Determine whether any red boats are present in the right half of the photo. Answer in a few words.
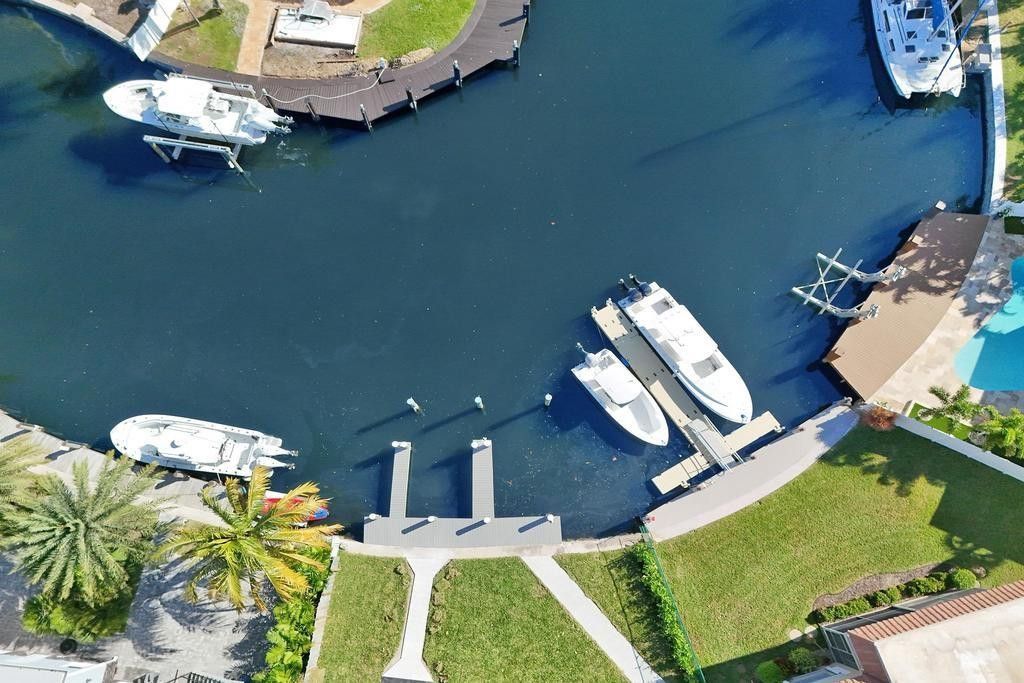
No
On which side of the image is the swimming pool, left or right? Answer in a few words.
right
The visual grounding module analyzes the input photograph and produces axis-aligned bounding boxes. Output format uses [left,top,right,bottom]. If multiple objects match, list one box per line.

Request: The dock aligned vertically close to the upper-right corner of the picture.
[964,0,990,70]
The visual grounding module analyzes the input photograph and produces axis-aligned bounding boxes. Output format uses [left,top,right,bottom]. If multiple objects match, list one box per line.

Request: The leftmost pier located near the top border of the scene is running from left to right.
[147,0,530,125]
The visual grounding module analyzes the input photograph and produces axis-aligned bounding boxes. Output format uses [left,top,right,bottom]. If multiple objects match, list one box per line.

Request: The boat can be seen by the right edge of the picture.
[873,0,990,98]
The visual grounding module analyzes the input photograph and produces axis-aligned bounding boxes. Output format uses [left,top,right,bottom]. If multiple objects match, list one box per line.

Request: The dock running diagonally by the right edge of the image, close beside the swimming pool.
[821,212,991,404]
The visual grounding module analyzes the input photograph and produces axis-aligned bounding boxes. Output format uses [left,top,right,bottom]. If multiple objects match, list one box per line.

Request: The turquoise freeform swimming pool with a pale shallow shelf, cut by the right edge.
[948,250,1024,398]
